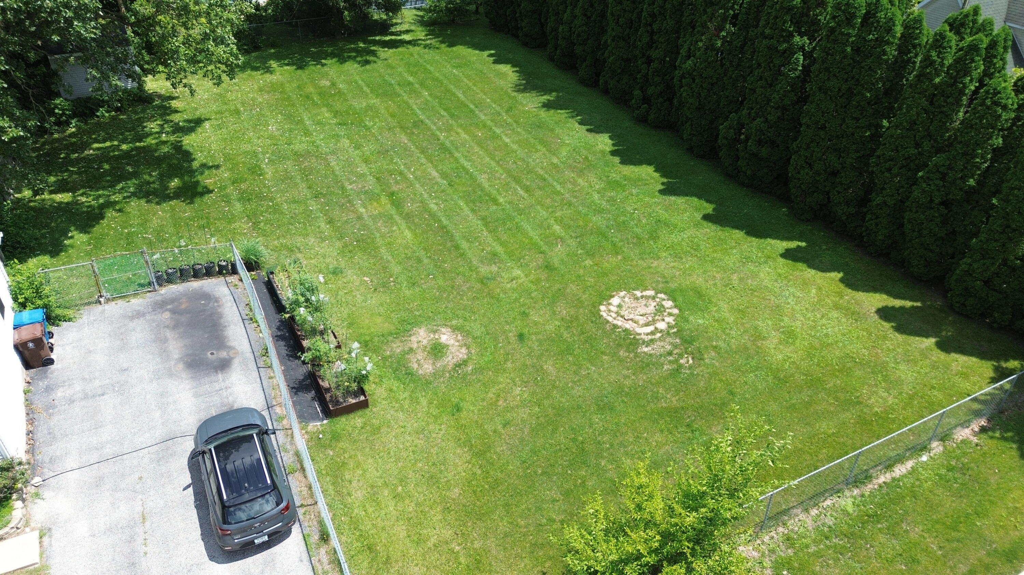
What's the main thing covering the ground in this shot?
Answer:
grass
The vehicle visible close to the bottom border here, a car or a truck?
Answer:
car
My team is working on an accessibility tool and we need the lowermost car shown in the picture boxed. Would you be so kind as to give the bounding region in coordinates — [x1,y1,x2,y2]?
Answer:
[190,411,300,561]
